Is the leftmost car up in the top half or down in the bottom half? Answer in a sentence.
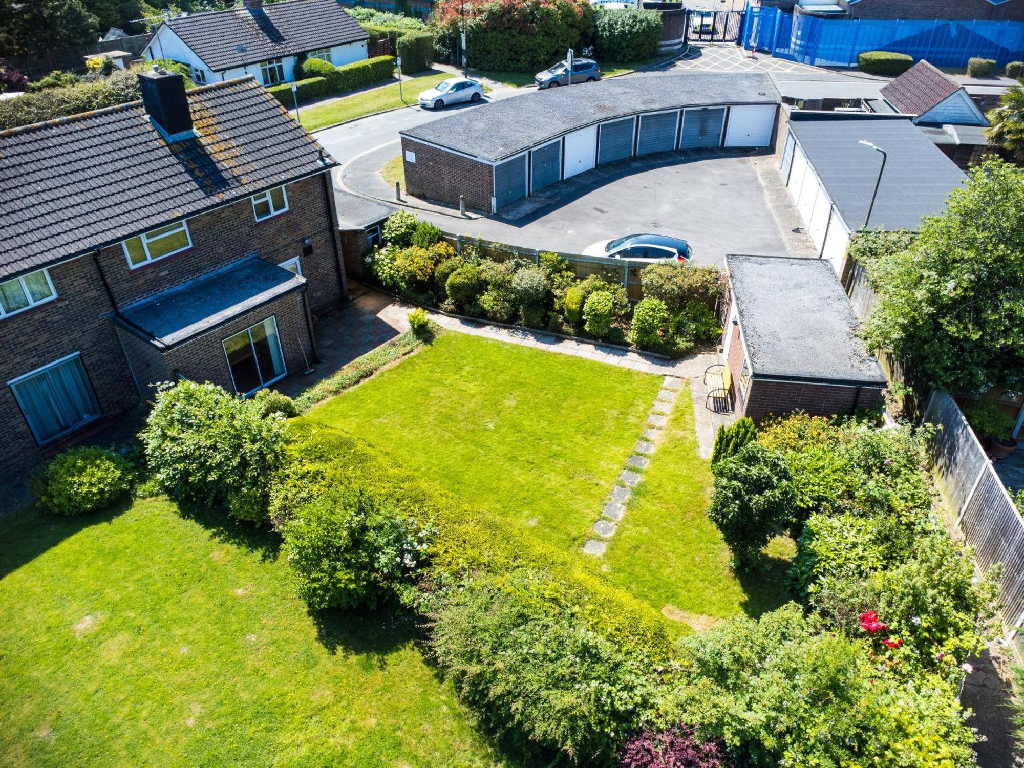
You can find the leftmost car in the top half.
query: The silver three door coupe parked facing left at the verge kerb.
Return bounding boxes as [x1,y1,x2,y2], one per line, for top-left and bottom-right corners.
[416,77,486,108]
